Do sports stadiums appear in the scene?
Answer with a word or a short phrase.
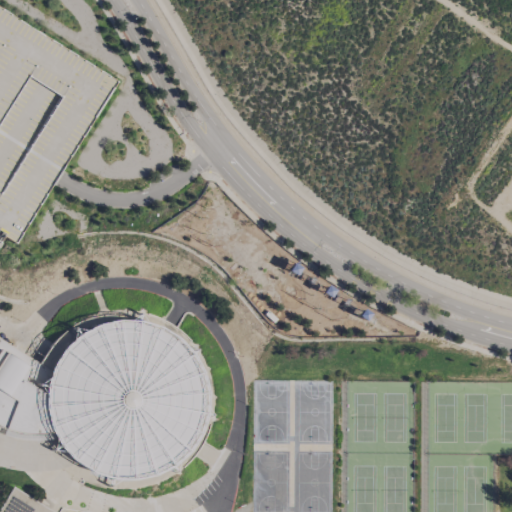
Yes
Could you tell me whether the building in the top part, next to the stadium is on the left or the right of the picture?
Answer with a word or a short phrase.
left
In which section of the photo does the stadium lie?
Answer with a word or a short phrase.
bottom left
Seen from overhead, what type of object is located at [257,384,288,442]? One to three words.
basketball court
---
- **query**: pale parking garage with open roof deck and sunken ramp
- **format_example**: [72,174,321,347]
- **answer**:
[0,6,120,244]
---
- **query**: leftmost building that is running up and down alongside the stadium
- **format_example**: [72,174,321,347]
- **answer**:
[0,338,48,434]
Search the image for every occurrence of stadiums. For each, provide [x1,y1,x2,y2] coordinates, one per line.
[26,310,218,482]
